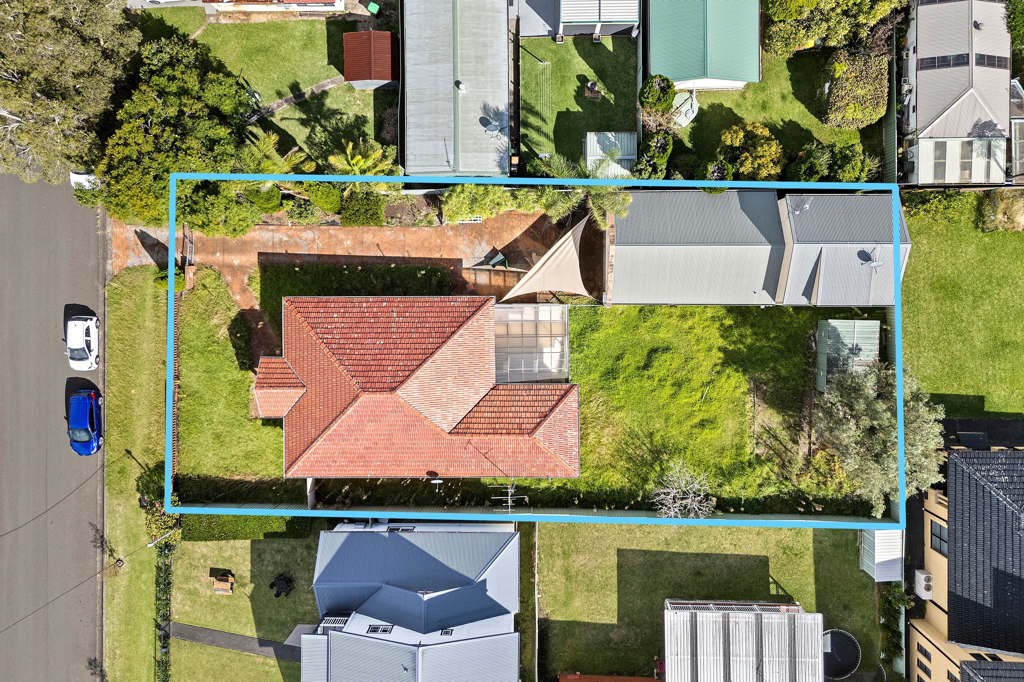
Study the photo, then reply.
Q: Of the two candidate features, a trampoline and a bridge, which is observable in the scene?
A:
trampoline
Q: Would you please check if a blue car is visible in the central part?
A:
No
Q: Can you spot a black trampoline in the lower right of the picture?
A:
Yes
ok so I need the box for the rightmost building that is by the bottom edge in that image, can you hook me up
[914,446,1024,682]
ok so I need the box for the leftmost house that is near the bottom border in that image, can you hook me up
[299,523,524,682]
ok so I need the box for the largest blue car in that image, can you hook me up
[63,392,102,458]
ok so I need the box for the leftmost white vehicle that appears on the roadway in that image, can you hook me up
[61,318,98,373]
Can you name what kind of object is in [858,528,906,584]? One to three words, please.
shed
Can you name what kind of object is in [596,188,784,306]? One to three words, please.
building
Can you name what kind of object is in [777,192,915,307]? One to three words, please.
house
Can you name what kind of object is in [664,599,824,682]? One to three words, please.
house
